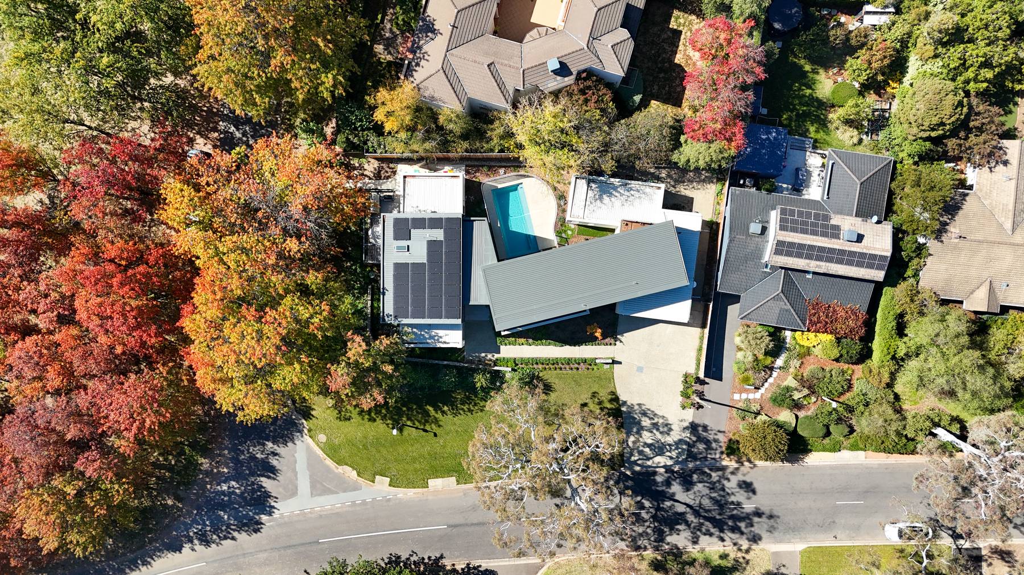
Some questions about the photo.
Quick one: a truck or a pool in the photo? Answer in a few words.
pool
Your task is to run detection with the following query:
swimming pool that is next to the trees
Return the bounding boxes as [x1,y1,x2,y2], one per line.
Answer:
[482,173,556,260]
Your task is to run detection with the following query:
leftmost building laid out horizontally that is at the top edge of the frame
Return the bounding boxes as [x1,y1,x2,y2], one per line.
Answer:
[400,0,646,115]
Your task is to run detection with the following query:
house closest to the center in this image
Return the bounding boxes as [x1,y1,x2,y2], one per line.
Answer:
[381,171,702,347]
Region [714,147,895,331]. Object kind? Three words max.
house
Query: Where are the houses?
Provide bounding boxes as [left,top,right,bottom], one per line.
[918,140,1024,313]
[714,147,895,331]
[381,171,702,347]
[400,0,646,115]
